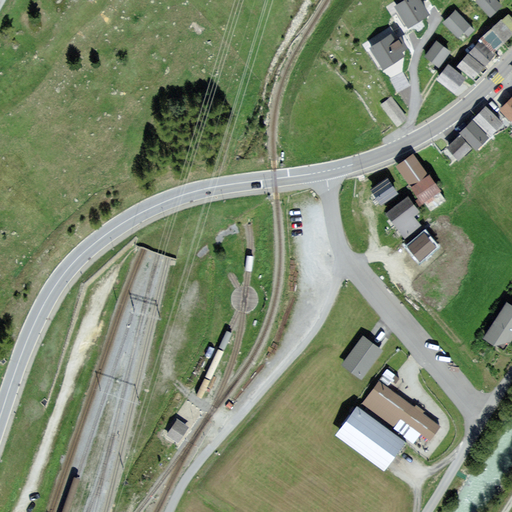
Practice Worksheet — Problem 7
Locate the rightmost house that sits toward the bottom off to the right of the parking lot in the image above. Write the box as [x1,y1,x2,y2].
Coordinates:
[484,302,512,353]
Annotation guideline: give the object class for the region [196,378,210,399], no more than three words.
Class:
rail car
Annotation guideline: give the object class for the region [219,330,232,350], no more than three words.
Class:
rail car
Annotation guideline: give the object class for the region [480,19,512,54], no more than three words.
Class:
building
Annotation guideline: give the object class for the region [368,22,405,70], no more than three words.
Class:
house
